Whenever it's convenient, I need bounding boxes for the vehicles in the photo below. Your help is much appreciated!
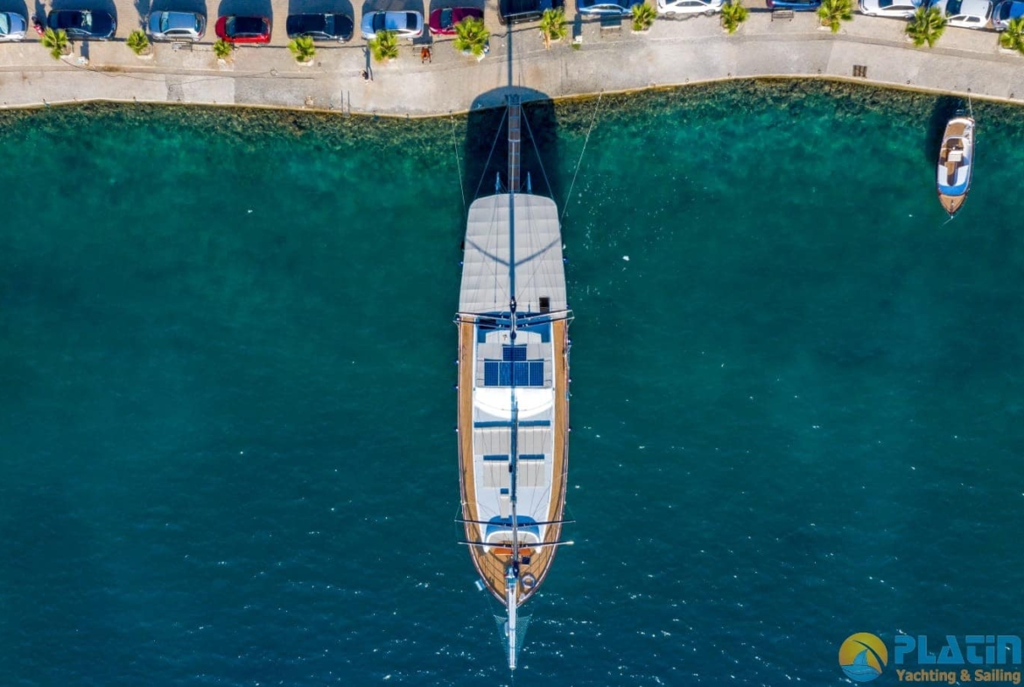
[764,0,821,11]
[930,0,997,27]
[23,11,42,34]
[429,1,485,36]
[361,6,425,40]
[858,0,921,18]
[0,12,28,42]
[575,0,645,16]
[989,0,1024,31]
[215,10,272,45]
[656,0,725,15]
[148,7,208,42]
[499,0,566,26]
[285,8,355,43]
[43,6,119,41]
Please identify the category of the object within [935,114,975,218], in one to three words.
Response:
boat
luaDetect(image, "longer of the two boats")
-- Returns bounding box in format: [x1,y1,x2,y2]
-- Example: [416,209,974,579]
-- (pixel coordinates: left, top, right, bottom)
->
[453,89,575,678]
